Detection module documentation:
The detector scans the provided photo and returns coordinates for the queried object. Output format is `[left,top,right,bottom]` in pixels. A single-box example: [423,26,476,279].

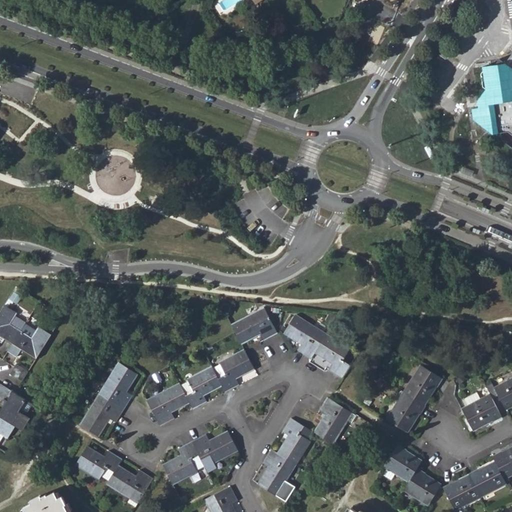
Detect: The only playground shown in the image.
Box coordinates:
[90,150,142,209]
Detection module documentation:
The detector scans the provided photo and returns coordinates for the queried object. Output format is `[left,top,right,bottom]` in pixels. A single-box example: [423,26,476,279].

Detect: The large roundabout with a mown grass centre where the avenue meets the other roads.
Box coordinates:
[306,128,382,206]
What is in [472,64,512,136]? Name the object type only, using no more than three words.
building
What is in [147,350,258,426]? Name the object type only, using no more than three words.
house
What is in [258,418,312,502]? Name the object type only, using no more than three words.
house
